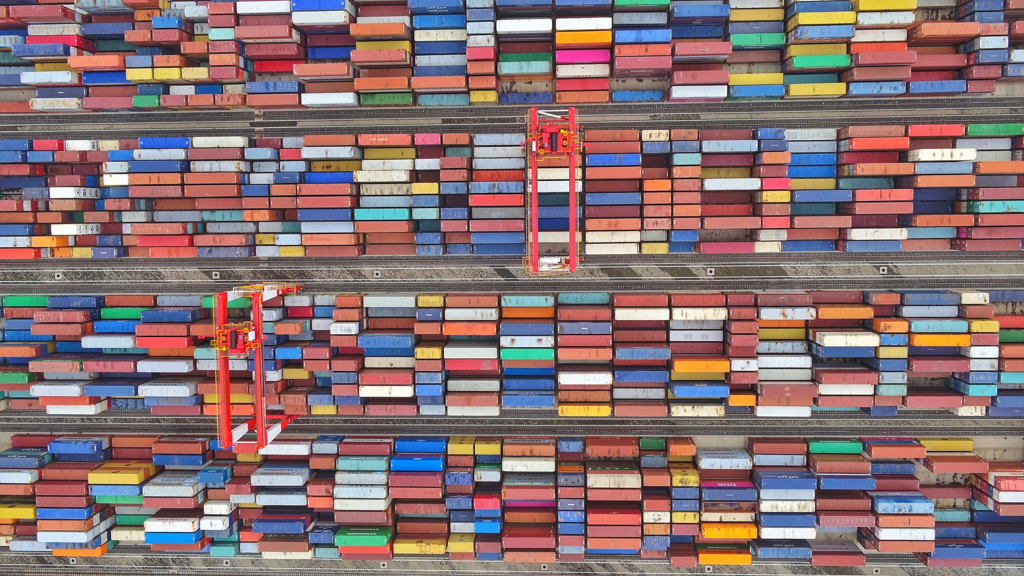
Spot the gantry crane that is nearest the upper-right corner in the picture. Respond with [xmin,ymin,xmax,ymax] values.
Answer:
[517,106,589,277]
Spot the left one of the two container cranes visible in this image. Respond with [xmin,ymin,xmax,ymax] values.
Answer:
[206,280,306,447]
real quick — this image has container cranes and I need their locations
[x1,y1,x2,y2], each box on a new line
[517,106,589,277]
[206,280,306,447]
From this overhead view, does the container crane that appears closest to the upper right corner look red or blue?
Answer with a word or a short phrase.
red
